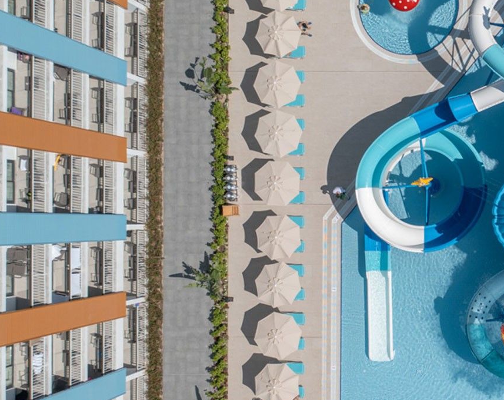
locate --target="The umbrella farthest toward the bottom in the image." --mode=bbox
[255,360,301,400]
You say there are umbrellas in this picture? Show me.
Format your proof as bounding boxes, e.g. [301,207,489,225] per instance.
[256,10,303,57]
[257,213,304,260]
[255,360,301,400]
[255,61,302,107]
[256,312,301,357]
[258,110,303,155]
[261,0,300,11]
[255,158,303,206]
[256,261,302,307]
